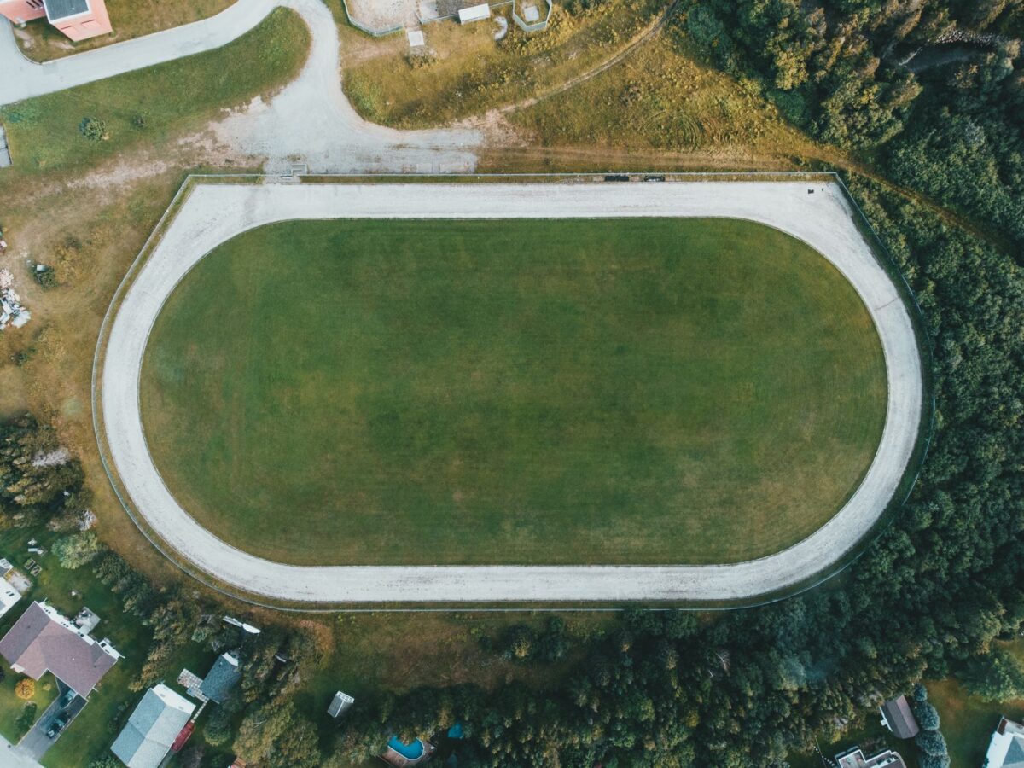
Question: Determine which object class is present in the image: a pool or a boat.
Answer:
pool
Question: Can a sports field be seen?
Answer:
Yes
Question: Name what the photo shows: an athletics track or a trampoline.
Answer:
athletics track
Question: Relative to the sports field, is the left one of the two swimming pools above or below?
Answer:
below it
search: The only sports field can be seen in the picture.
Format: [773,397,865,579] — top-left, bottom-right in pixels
[140,218,887,565]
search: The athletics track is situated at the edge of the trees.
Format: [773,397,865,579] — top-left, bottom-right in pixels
[102,181,923,602]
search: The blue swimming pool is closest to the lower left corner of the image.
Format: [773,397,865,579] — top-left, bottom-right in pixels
[387,725,423,759]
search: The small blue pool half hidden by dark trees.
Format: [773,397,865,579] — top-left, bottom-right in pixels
[446,718,465,741]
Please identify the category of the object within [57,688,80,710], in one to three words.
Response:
car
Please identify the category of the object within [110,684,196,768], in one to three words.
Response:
house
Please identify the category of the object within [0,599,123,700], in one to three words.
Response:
house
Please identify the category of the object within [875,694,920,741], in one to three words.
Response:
shed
